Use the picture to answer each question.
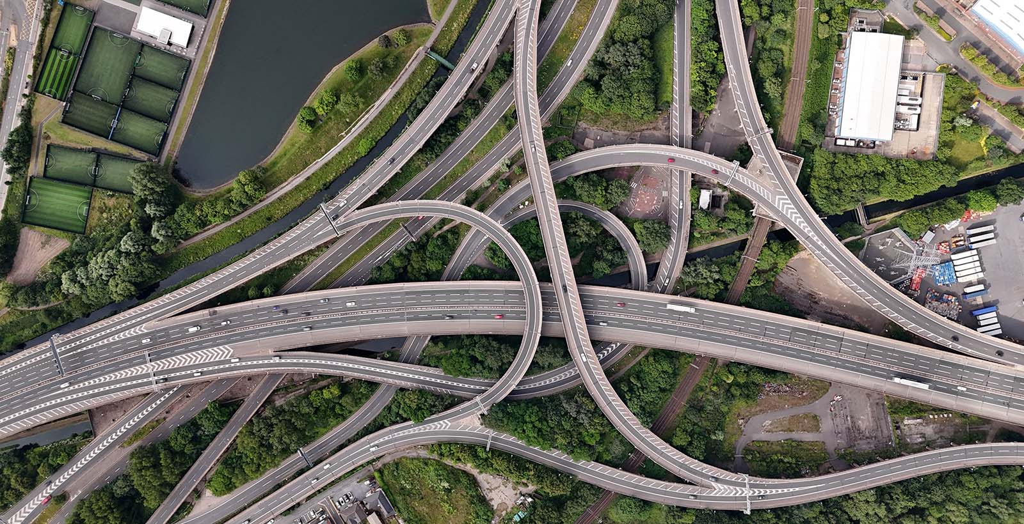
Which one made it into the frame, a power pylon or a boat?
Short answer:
power pylon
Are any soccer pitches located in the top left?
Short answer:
Yes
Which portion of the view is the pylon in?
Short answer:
right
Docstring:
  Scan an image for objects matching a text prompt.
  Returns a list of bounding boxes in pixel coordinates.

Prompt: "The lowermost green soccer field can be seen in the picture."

[19,176,93,234]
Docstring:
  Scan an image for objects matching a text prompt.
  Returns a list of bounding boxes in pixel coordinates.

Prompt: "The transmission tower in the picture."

[884,242,942,272]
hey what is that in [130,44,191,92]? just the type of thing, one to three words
soccer field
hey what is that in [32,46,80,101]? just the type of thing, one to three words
soccer field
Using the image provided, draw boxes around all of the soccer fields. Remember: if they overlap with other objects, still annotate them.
[32,46,80,101]
[159,0,211,17]
[119,75,179,124]
[19,176,93,234]
[41,144,96,186]
[58,91,119,137]
[108,107,168,156]
[49,1,94,55]
[93,153,147,193]
[130,44,191,92]
[71,25,141,105]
